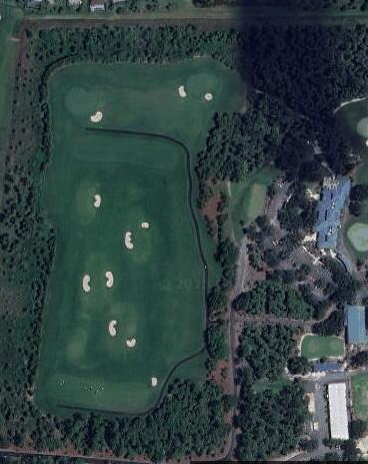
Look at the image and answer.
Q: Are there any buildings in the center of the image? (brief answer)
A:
No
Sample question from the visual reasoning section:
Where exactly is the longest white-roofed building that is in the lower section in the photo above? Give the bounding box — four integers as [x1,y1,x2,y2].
[328,381,349,439]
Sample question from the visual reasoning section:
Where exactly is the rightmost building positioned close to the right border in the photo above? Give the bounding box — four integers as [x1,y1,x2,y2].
[346,306,368,342]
